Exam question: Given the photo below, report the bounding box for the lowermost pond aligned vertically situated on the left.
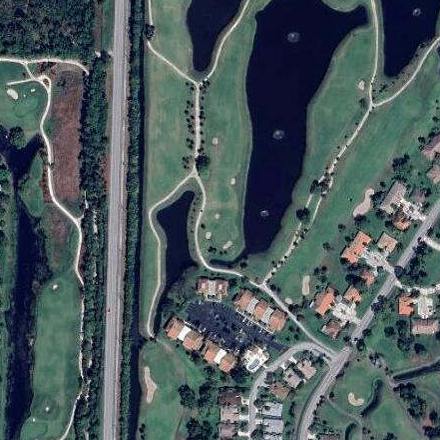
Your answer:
[153,190,197,333]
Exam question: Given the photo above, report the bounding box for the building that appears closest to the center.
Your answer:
[197,279,227,301]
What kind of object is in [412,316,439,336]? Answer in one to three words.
house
